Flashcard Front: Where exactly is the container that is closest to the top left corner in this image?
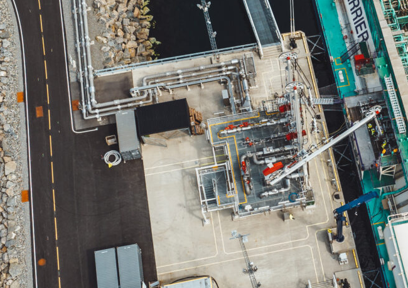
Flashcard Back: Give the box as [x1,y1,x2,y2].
[114,107,139,158]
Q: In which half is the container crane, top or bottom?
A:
bottom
